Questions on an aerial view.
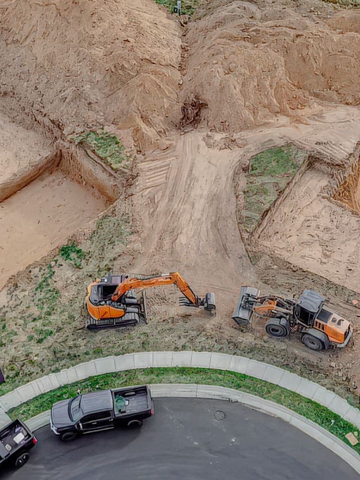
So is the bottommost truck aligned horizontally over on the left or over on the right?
left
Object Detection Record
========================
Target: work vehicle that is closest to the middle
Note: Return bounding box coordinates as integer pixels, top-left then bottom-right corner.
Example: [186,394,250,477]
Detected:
[87,269,214,329]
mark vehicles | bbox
[50,382,154,440]
[0,421,33,480]
[87,269,214,329]
[231,288,352,352]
